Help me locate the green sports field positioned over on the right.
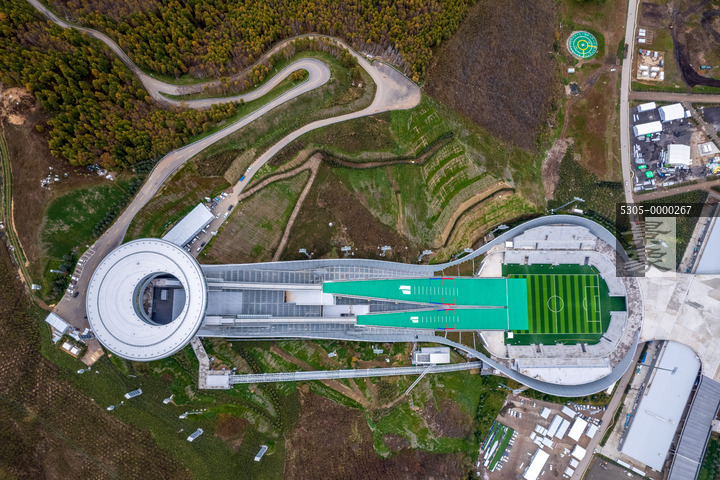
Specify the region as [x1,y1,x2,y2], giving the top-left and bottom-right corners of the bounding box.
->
[501,264,626,345]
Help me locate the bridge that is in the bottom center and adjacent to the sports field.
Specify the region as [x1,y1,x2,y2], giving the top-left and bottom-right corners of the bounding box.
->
[231,360,487,385]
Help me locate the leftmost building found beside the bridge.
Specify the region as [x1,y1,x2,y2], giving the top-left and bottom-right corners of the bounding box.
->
[86,238,211,361]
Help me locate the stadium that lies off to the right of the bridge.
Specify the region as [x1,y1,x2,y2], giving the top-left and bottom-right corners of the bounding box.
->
[502,225,628,384]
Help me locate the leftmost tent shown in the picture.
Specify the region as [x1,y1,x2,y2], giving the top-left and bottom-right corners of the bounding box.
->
[523,447,548,479]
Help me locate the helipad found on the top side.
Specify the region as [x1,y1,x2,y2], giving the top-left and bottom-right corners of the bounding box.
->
[568,30,598,58]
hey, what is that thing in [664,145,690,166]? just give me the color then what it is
white tent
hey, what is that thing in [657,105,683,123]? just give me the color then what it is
white tent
